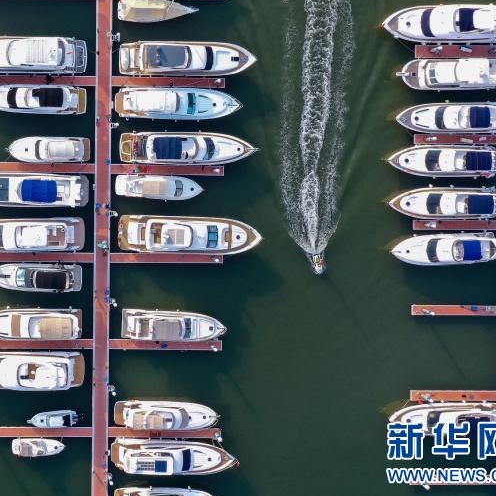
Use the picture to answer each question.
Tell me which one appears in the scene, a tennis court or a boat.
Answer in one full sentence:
There is a boat in the scene.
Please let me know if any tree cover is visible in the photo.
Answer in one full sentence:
No, there is no tree cover in the image.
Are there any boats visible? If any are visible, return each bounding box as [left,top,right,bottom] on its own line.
[0,170,92,210]
[109,128,260,168]
[397,58,496,92]
[389,232,496,265]
[0,305,93,341]
[109,214,265,255]
[387,399,496,437]
[380,5,496,46]
[110,396,219,434]
[109,307,227,345]
[109,172,205,204]
[311,253,323,273]
[27,410,80,431]
[110,39,258,80]
[0,349,93,393]
[0,261,91,296]
[8,133,93,166]
[386,145,496,178]
[386,186,496,219]
[0,82,92,117]
[0,215,93,255]
[110,483,213,496]
[393,101,496,133]
[0,33,93,76]
[12,437,66,458]
[110,435,240,479]
[111,84,243,122]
